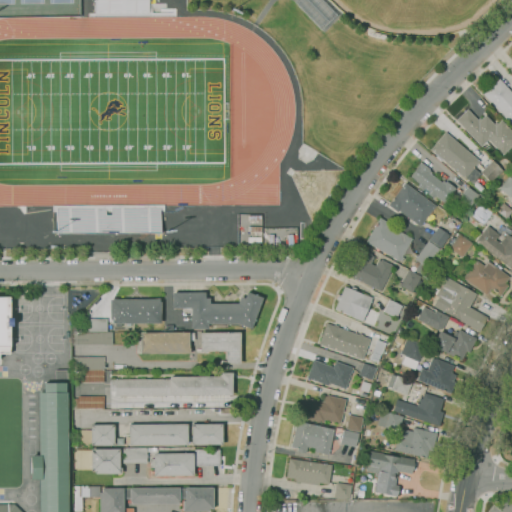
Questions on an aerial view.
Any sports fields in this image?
Yes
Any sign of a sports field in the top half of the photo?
Yes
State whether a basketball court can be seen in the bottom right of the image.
No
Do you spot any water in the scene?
No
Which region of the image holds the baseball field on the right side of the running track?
top right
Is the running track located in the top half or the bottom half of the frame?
top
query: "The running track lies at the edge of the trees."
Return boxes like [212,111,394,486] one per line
[0,17,299,205]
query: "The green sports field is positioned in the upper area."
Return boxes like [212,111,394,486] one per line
[0,39,230,184]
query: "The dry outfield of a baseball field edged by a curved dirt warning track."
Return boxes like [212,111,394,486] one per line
[332,0,494,36]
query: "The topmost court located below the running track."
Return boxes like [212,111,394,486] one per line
[19,296,66,322]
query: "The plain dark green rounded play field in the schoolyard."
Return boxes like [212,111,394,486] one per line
[0,378,23,488]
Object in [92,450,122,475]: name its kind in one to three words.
house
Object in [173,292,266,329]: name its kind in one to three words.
building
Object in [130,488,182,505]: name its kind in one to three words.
house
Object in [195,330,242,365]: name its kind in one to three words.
building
